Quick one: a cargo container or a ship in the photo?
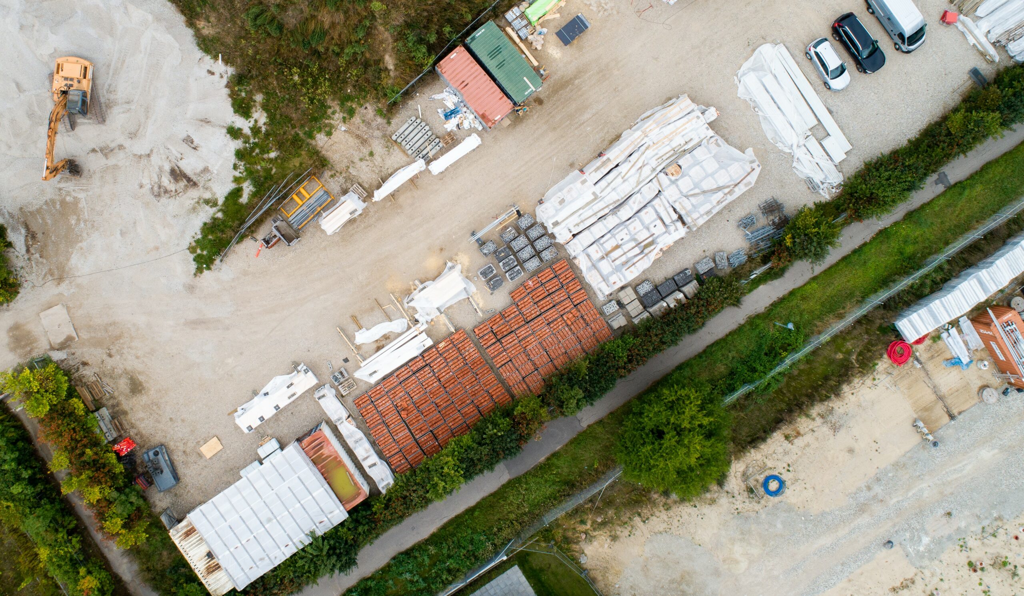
cargo container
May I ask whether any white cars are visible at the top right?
Yes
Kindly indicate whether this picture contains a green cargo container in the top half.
Yes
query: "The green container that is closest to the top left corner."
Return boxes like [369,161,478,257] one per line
[465,19,543,106]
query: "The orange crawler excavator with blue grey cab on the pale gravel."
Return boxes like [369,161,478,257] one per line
[37,65,103,191]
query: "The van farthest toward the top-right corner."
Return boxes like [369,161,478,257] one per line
[868,0,932,58]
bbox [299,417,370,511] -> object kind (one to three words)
shipping container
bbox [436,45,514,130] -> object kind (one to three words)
shipping container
